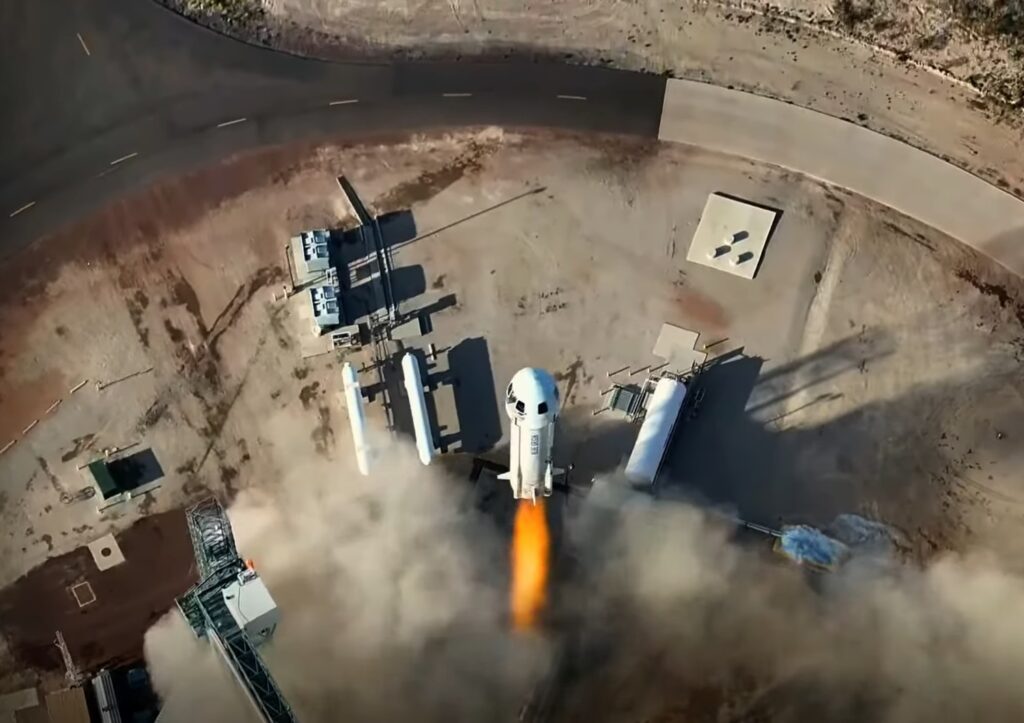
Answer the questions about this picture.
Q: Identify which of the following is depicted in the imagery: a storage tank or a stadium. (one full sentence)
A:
Of the two, only a storage tank appears.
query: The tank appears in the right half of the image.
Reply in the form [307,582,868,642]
[625,365,696,495]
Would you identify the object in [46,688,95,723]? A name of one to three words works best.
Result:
shed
